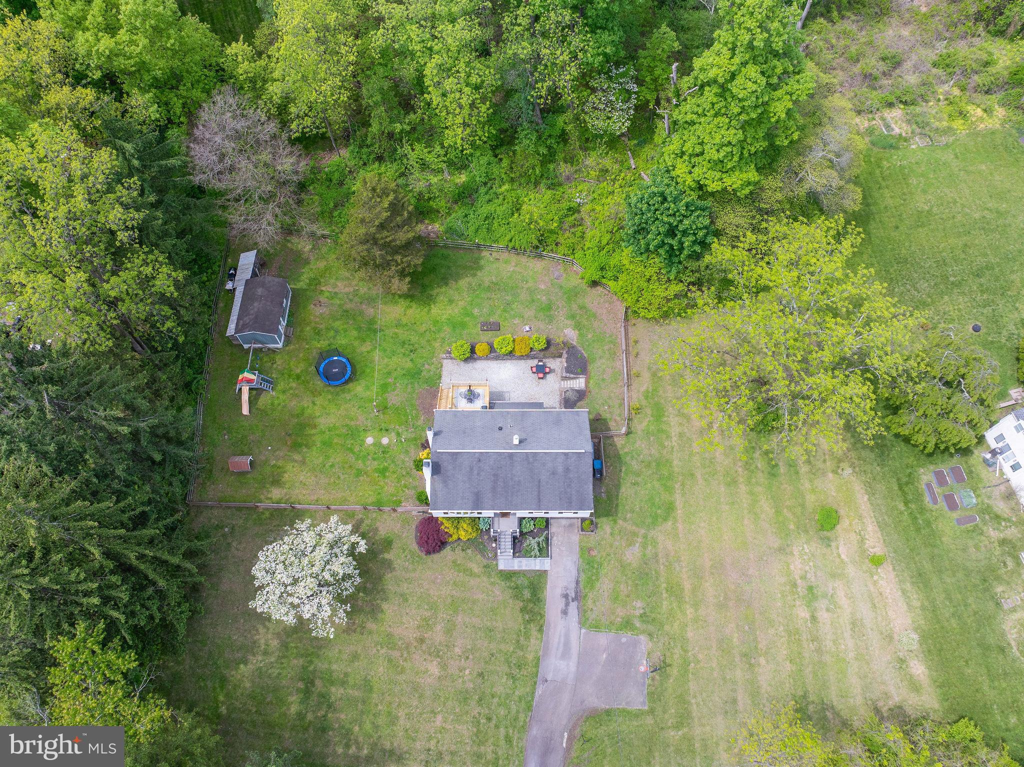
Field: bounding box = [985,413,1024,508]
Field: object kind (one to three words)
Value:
house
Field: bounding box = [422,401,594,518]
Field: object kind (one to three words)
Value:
house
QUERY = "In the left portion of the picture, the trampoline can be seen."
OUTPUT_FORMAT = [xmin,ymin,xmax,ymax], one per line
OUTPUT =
[314,345,356,388]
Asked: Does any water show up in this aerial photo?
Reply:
No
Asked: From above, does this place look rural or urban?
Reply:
rural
